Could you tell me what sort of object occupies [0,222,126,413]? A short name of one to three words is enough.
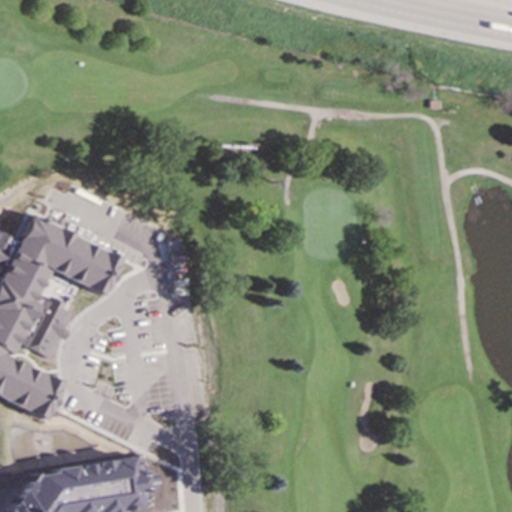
building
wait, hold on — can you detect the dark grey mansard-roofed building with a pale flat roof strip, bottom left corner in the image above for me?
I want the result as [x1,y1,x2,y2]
[22,456,159,512]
